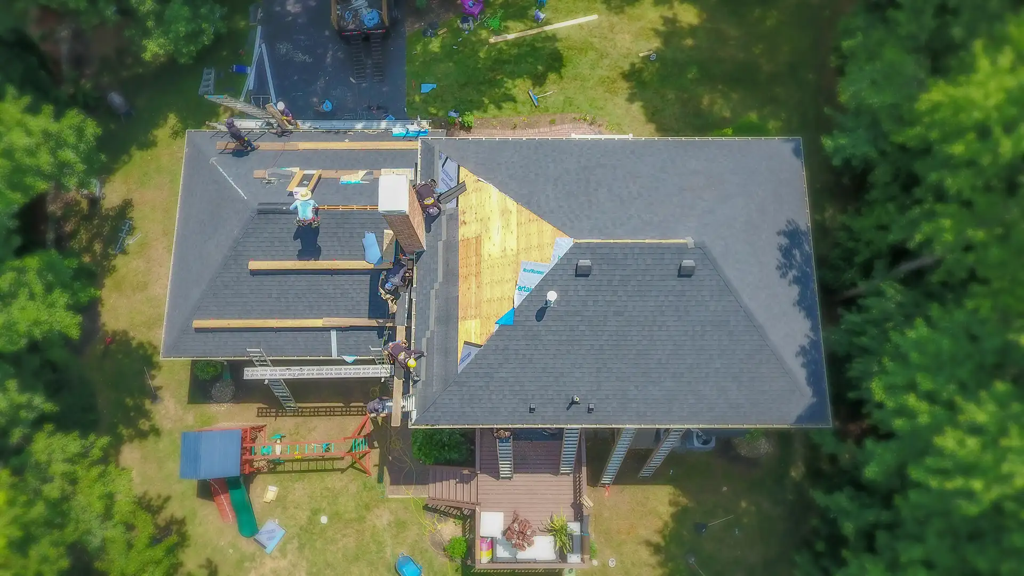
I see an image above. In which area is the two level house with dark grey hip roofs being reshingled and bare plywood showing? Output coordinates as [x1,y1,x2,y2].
[160,130,832,438]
